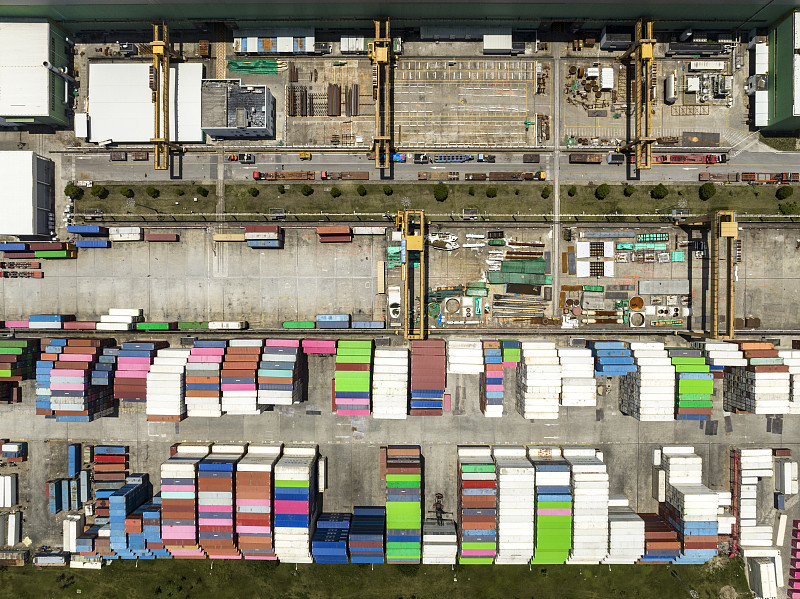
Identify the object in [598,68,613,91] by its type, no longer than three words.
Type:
building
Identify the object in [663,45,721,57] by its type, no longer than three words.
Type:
shed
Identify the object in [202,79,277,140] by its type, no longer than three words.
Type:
building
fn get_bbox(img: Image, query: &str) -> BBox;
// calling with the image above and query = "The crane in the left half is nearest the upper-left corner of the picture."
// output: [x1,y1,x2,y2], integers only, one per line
[148,25,187,170]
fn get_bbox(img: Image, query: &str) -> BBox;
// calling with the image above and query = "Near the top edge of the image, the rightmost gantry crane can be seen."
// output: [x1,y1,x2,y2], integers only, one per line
[618,24,659,170]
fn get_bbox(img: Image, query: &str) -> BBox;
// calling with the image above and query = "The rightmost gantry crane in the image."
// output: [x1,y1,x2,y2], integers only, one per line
[673,209,742,340]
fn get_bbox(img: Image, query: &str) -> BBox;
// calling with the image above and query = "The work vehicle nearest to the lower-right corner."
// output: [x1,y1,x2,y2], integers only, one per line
[426,491,452,524]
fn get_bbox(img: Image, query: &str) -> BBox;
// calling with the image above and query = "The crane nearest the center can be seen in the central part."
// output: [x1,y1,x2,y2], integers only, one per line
[388,209,435,340]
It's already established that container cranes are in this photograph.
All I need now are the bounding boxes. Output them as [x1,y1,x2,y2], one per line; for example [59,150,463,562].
[618,24,659,170]
[388,209,435,340]
[673,209,742,340]
[368,25,398,170]
[148,25,187,170]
